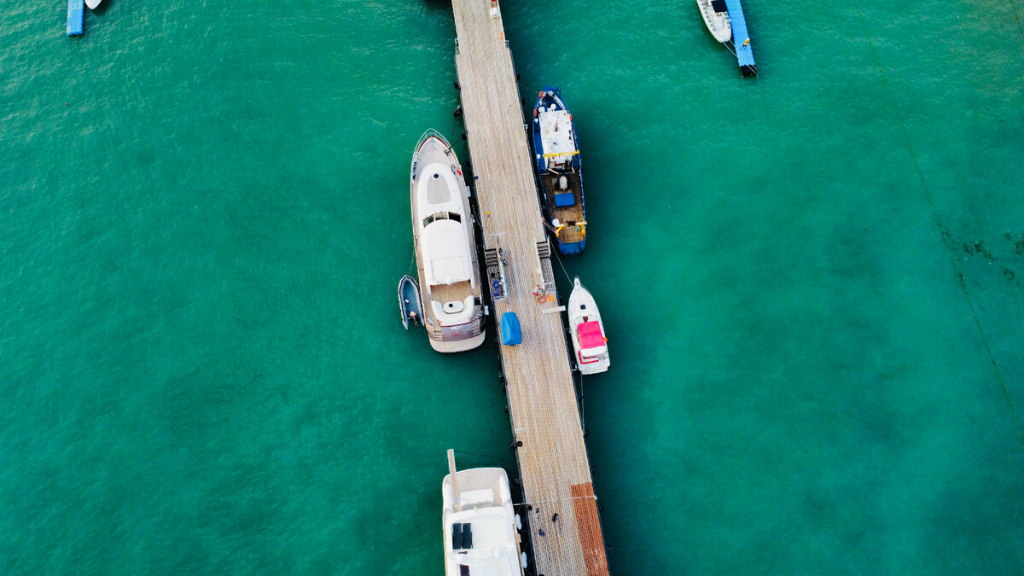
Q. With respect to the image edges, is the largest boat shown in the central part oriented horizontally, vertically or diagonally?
vertically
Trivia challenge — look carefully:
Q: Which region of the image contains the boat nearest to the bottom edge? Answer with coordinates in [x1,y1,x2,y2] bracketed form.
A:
[443,448,527,576]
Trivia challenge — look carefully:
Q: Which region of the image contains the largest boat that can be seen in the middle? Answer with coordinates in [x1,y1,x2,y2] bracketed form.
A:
[409,129,486,354]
